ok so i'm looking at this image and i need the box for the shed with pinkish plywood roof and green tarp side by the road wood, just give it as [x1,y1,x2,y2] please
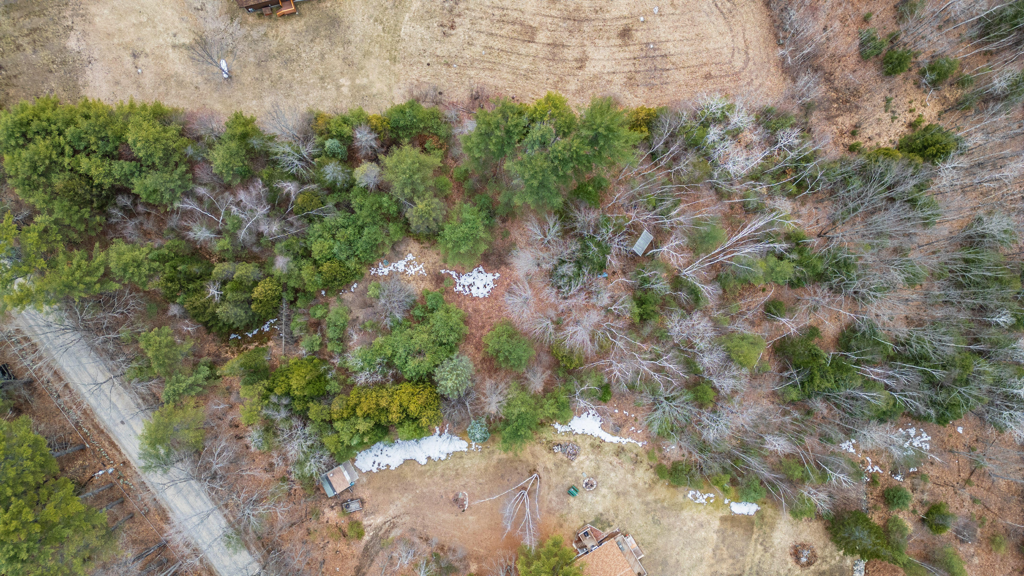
[321,458,361,499]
